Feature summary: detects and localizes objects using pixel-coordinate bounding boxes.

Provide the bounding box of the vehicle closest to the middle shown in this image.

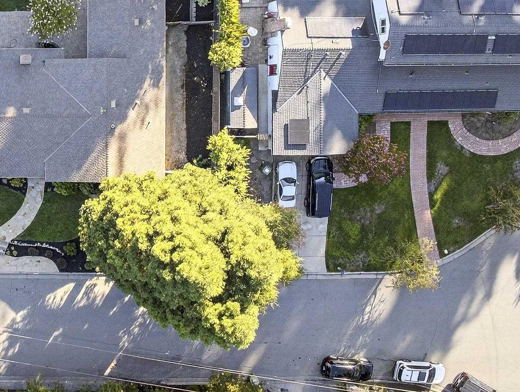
[277,160,303,209]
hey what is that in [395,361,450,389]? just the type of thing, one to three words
car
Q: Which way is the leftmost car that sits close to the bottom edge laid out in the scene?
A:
from side to side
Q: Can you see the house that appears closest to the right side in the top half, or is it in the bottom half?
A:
top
